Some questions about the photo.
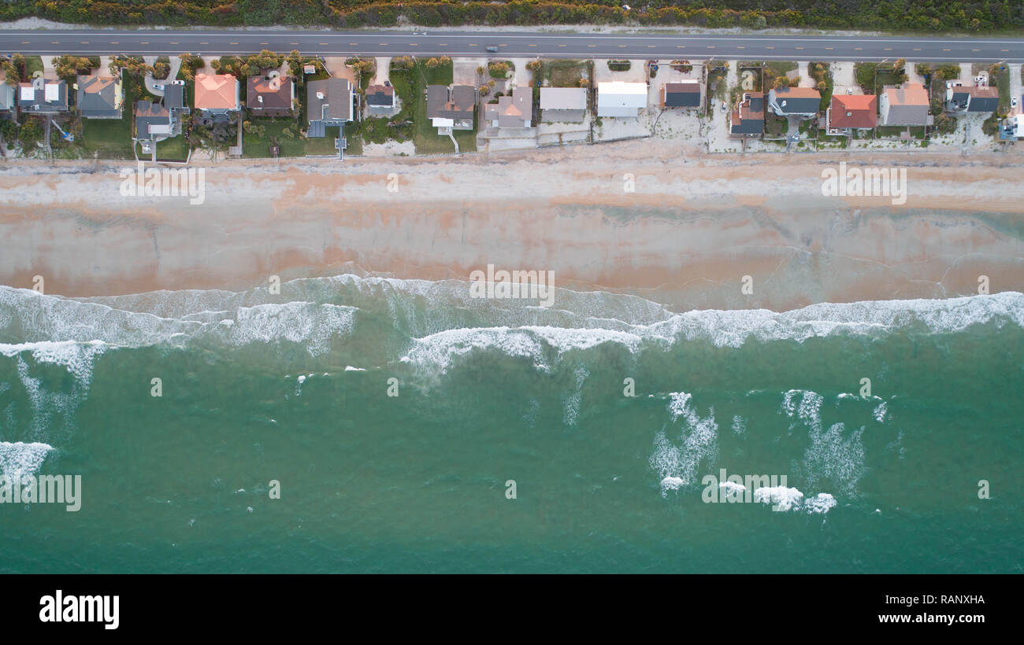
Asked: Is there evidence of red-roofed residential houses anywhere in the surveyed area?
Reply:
Yes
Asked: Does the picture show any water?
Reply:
Yes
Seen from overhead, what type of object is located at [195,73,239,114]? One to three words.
house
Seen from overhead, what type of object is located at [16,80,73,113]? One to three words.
house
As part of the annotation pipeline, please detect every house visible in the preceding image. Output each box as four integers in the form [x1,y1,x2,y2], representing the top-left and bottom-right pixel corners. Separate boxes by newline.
[946,85,1002,114]
[426,83,475,128]
[77,73,123,118]
[1009,94,1024,145]
[730,91,766,135]
[598,82,648,117]
[135,84,185,139]
[828,95,876,129]
[766,87,824,116]
[881,82,933,128]
[306,76,352,138]
[366,84,393,106]
[485,86,533,128]
[665,83,702,109]
[540,87,586,110]
[195,73,239,114]
[16,80,73,113]
[247,74,293,113]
